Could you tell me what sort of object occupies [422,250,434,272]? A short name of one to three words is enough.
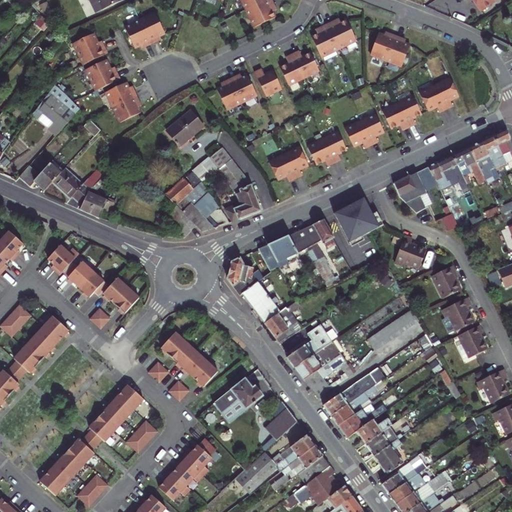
vehicle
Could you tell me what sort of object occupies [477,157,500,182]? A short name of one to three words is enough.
shed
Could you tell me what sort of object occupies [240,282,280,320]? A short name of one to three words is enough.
building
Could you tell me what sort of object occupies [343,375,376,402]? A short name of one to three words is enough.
house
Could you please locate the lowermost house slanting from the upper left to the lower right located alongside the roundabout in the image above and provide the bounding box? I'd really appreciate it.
[162,332,218,386]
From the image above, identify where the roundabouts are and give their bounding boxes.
[150,242,219,310]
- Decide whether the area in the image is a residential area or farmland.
residential area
